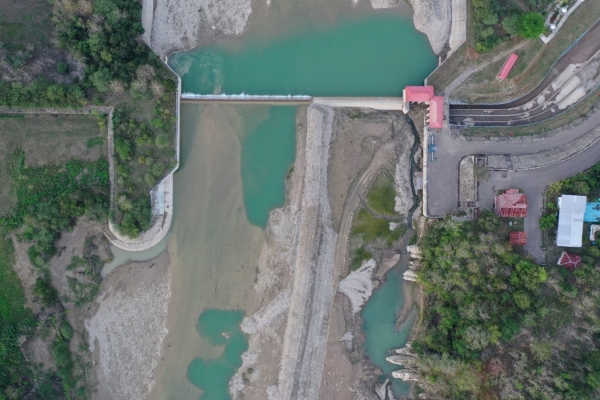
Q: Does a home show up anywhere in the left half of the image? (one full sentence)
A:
No, no home is visible in the left half of the image.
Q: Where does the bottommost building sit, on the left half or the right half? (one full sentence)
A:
The bottommost building sits on the right side.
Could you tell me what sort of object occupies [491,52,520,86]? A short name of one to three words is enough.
shed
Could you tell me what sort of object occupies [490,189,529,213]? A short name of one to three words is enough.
house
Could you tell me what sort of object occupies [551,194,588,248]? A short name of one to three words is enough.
building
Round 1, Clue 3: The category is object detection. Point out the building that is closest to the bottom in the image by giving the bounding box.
[555,249,584,269]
